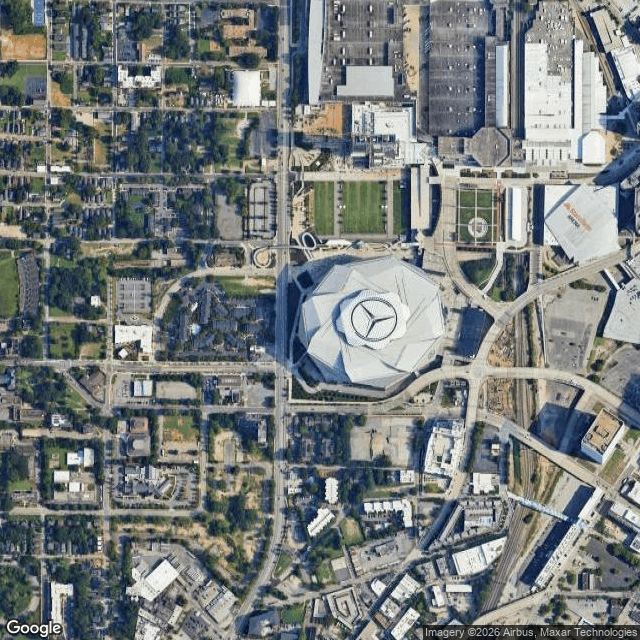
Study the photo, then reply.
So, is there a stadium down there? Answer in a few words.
Yes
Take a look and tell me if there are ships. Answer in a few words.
No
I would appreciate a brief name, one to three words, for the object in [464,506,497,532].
building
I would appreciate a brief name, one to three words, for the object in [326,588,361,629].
building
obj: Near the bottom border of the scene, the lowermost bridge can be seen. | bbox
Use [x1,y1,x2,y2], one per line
[462,584,566,640]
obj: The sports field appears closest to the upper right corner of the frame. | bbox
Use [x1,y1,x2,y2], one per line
[341,182,385,235]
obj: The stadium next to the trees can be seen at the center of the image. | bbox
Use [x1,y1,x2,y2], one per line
[298,256,444,399]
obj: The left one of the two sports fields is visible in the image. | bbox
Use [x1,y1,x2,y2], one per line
[314,182,333,235]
